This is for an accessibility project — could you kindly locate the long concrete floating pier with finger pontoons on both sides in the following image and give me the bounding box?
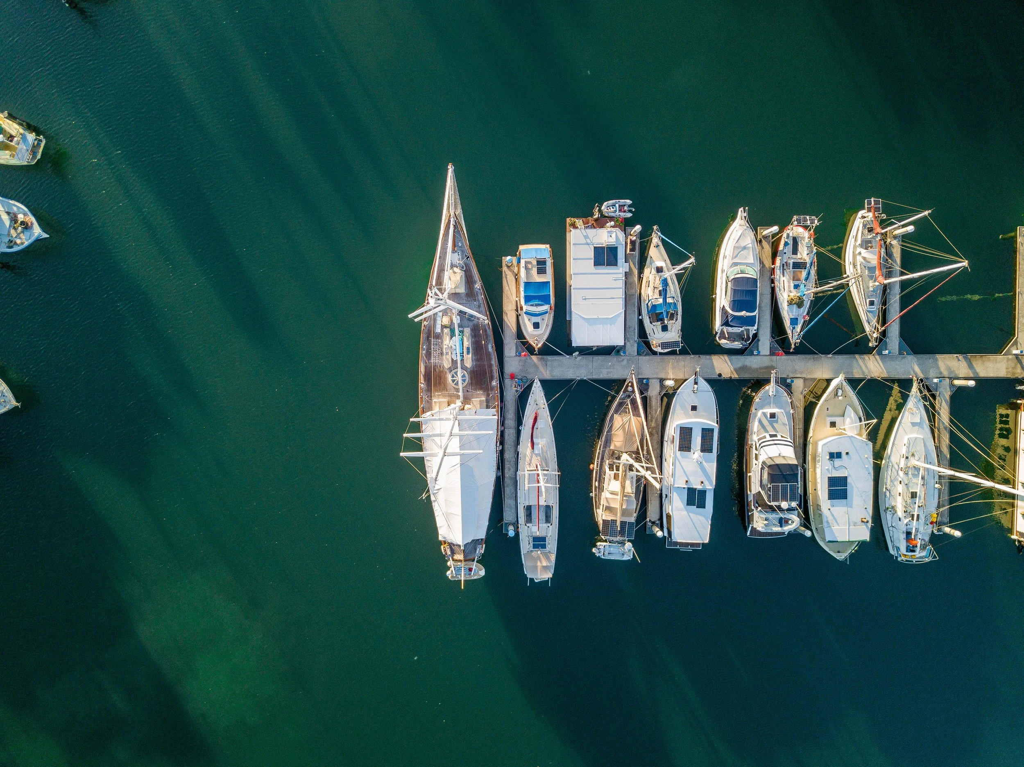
[503,226,1024,534]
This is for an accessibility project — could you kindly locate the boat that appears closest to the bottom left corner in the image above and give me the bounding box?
[0,374,22,414]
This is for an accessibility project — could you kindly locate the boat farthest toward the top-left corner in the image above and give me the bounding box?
[0,112,48,165]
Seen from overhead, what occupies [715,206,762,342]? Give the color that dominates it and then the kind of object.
white boat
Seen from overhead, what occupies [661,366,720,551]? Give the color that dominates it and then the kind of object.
white boat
